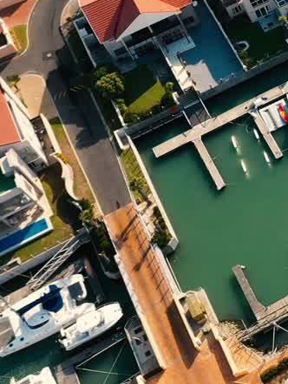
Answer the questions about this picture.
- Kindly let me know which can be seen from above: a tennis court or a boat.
boat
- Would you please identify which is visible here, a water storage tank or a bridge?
bridge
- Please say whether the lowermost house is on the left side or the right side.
left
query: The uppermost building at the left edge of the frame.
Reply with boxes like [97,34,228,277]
[0,85,61,202]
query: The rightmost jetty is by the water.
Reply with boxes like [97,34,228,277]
[262,100,288,132]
